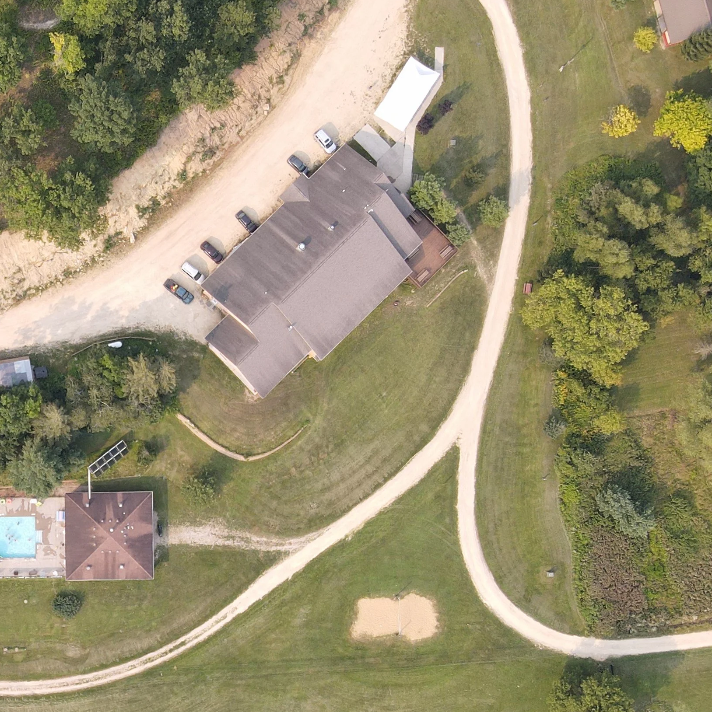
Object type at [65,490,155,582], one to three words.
building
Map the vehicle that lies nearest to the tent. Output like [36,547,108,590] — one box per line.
[313,128,337,155]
